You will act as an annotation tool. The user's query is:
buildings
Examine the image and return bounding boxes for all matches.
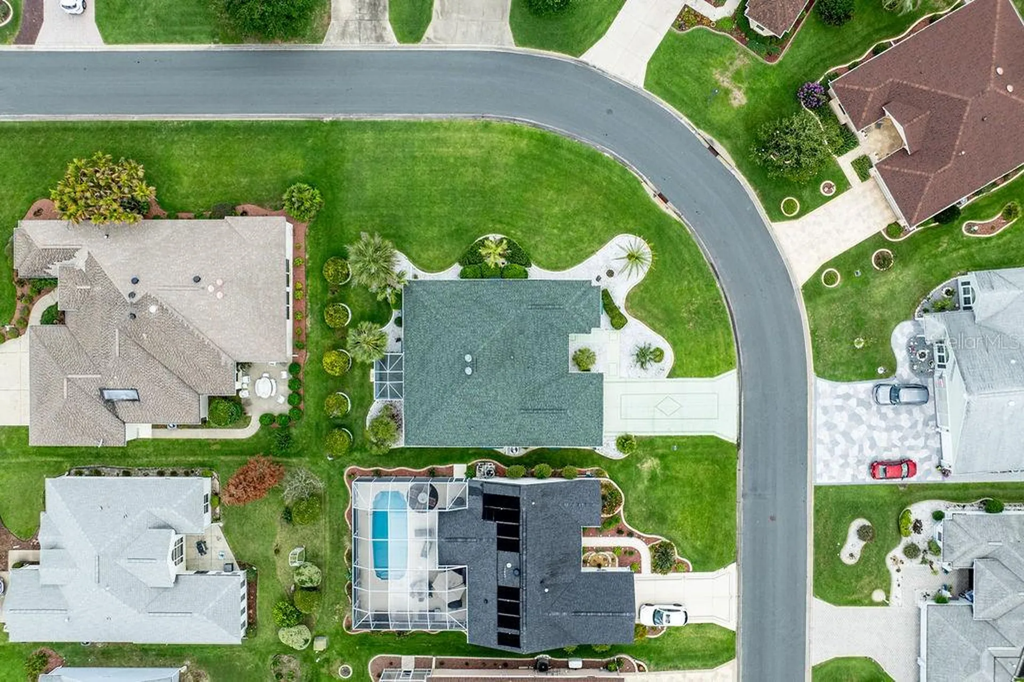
[915,512,1024,682]
[437,478,637,664]
[426,669,625,682]
[13,215,292,446]
[744,0,807,43]
[37,660,187,682]
[913,268,1024,475]
[825,0,1024,229]
[403,279,604,448]
[0,477,247,646]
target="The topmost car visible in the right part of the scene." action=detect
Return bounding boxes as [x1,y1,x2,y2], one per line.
[872,383,929,407]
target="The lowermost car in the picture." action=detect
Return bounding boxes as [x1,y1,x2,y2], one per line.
[639,603,687,628]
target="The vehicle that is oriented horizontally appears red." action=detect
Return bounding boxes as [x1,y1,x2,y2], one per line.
[868,459,916,481]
